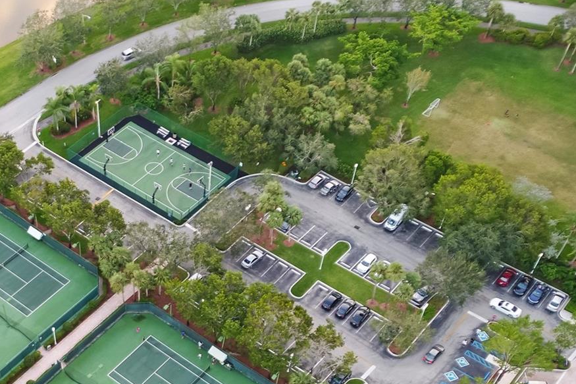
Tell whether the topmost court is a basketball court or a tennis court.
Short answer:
basketball court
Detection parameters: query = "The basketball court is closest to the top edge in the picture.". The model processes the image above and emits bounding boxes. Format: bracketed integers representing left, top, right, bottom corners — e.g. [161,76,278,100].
[71,117,244,225]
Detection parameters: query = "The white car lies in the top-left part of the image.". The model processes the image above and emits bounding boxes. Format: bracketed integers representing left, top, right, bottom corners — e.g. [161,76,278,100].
[118,47,136,60]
